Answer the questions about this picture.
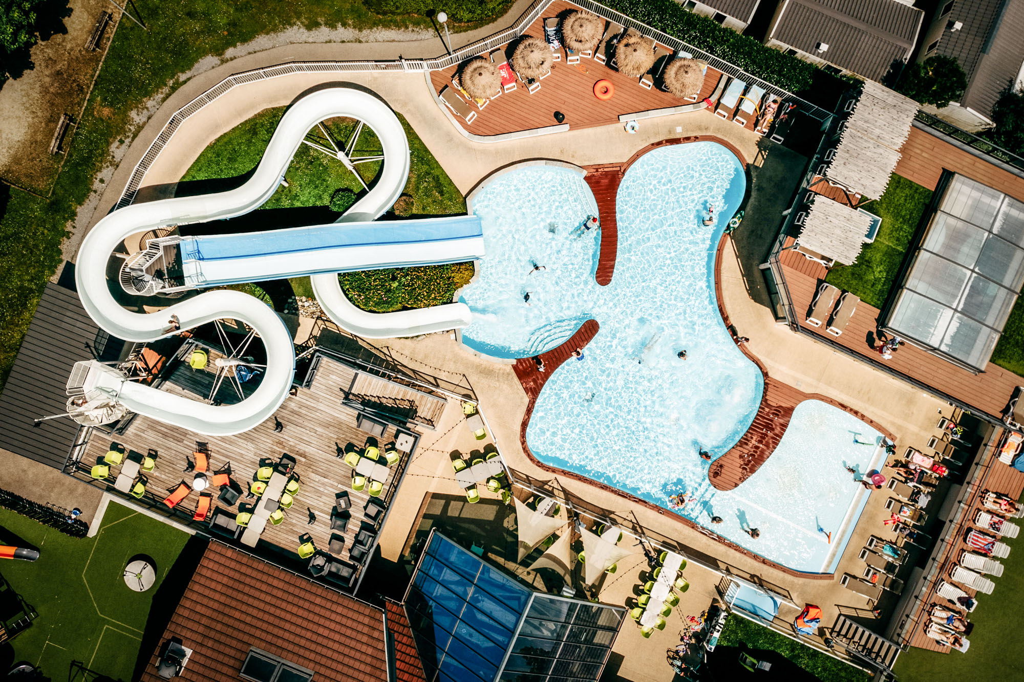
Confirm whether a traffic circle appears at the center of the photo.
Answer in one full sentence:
No, the scene shows no traffic circle at the center of the photo.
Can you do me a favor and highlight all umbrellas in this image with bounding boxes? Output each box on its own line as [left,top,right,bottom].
[609,35,655,82]
[458,59,504,106]
[659,57,704,104]
[508,37,555,83]
[557,12,603,59]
